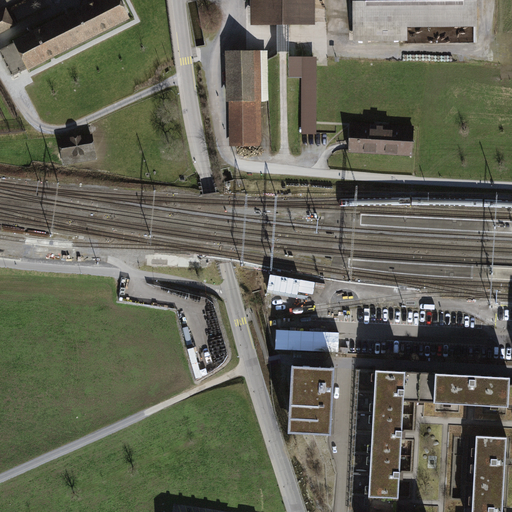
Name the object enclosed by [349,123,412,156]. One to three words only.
house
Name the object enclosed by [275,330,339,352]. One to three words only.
building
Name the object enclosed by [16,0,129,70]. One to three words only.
house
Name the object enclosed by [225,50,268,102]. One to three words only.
barn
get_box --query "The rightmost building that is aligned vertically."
[468,434,507,512]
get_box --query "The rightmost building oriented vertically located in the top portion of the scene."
[288,57,316,134]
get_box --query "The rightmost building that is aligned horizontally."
[430,372,510,414]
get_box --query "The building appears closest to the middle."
[268,275,314,300]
